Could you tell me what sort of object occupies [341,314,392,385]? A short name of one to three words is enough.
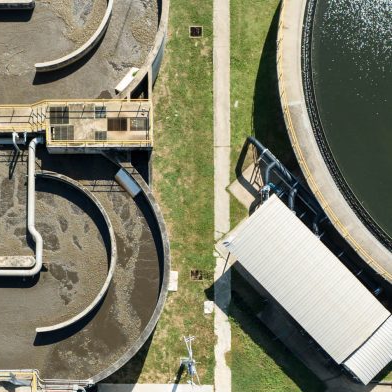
building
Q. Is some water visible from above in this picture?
Yes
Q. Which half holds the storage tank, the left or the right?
right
